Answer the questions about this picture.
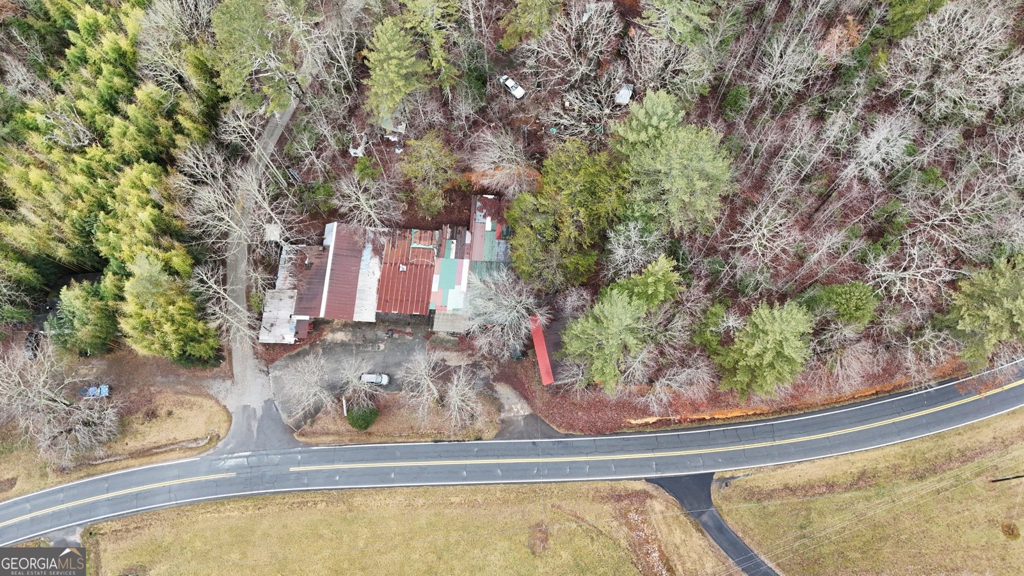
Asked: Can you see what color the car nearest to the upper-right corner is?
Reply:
white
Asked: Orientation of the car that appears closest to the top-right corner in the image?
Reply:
diagonally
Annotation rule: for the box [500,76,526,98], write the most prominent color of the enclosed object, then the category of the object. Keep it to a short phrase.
white car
